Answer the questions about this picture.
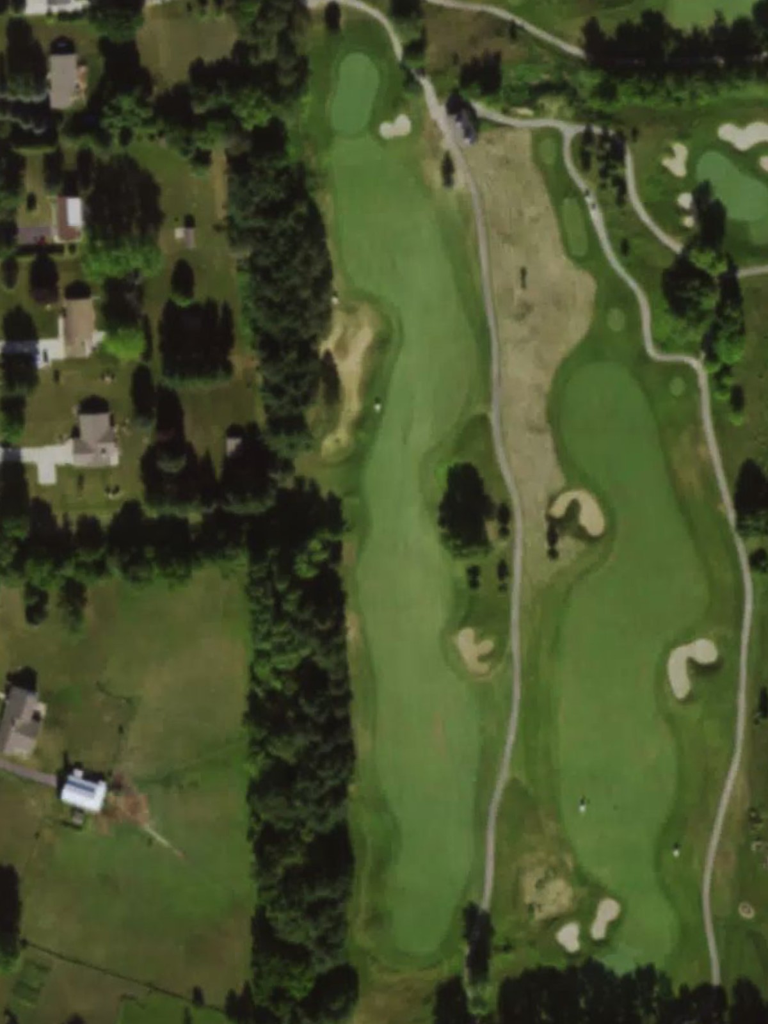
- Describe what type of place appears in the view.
golf course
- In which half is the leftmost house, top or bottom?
bottom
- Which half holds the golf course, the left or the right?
right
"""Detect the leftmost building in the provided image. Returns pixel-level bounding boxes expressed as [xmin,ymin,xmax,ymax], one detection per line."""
[0,689,50,759]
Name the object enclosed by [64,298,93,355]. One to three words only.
house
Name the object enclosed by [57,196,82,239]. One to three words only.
house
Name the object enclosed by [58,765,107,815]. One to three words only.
barn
